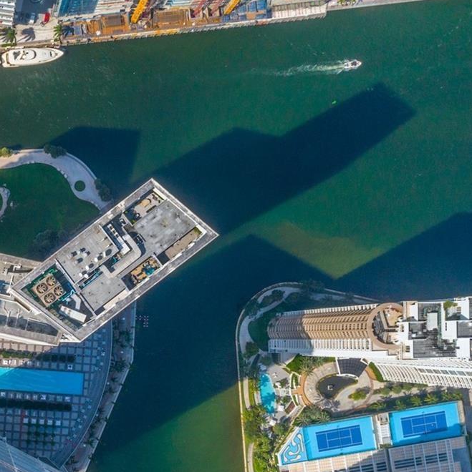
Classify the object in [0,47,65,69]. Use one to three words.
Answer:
boat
